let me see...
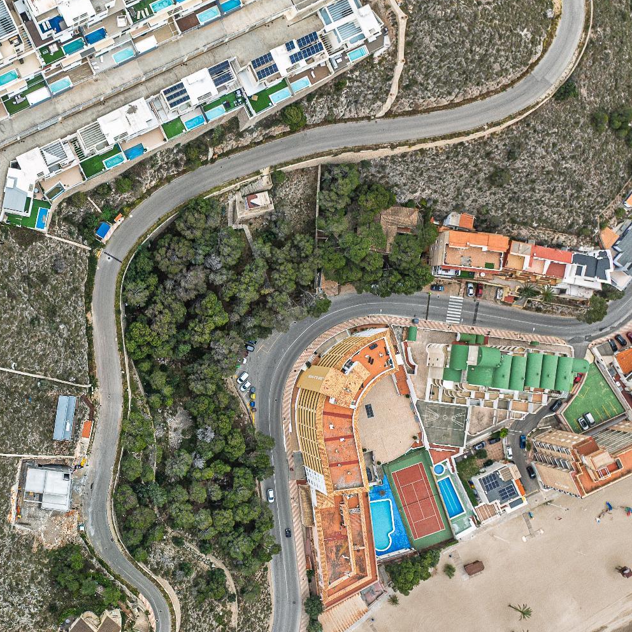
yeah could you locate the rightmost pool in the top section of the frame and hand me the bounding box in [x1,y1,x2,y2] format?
[346,45,368,61]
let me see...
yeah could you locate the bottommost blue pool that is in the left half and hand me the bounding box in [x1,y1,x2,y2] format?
[35,208,49,231]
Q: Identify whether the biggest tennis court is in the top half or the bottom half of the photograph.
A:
bottom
